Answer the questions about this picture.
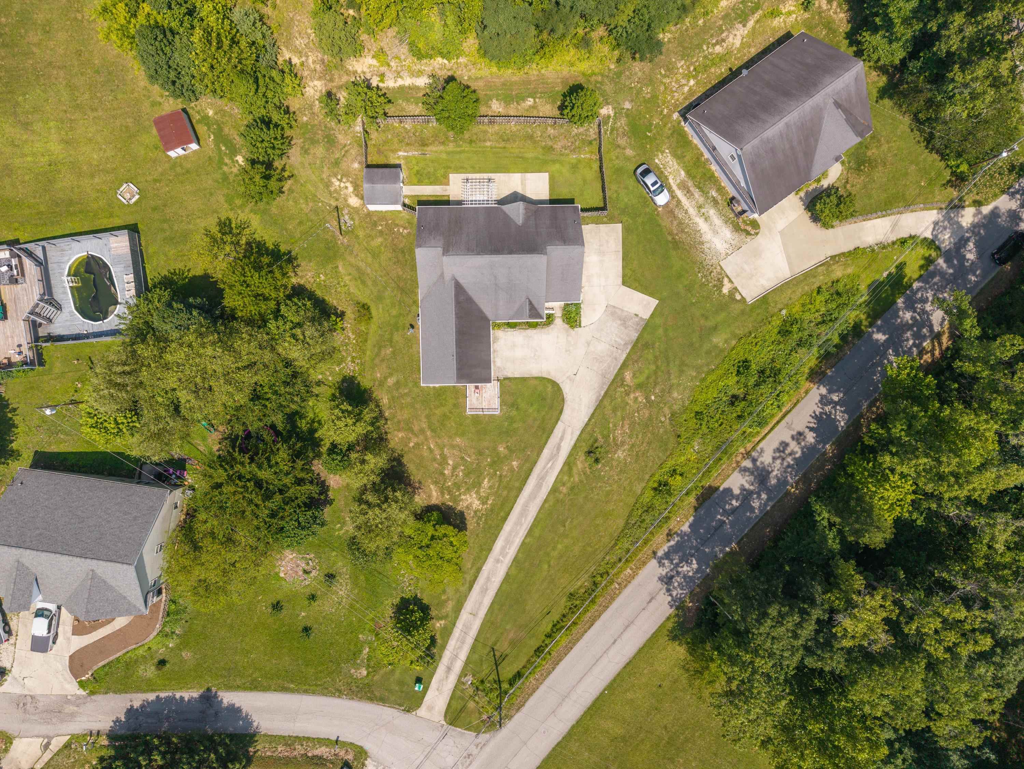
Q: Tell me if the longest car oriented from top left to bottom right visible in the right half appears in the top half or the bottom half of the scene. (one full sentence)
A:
It is in the top half that the longest car oriented from top left to bottom right visible in the right half appears.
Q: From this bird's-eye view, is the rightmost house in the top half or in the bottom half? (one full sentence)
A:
The rightmost house is in the top half of the image.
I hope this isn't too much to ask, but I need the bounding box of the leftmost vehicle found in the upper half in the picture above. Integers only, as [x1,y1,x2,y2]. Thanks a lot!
[634,164,669,210]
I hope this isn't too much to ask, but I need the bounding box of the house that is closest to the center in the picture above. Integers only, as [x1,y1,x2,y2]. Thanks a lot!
[415,201,584,386]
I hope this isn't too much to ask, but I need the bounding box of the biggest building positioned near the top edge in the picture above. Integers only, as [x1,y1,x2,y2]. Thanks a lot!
[686,30,874,217]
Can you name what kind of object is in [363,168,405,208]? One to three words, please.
shed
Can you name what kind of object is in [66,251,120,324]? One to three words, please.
swimming pool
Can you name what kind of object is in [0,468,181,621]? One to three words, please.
house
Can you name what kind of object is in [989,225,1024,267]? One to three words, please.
car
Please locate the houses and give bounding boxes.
[415,201,584,386]
[686,30,874,217]
[0,468,181,621]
